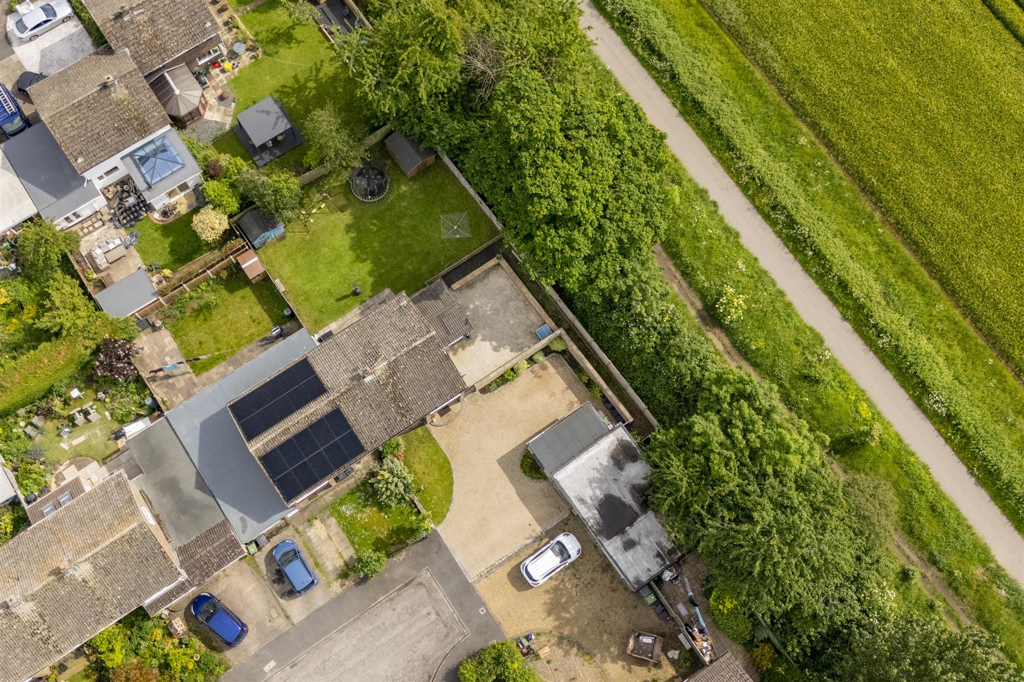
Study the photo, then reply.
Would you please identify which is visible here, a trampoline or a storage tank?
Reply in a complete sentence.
There is a trampoline in the scene.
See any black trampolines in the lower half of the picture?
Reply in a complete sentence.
No, the scene shows no black trampoline in the lower half of the picture.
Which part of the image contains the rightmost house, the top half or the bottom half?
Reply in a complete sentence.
The bottom half of the photo is where the rightmost house is.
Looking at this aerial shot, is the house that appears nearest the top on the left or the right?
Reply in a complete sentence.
The house that appears nearest the top sits on the left side.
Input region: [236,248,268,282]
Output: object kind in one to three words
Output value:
shed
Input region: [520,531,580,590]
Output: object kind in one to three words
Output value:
car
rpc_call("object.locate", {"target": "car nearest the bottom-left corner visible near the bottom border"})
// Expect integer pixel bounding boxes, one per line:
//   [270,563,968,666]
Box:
[194,591,249,651]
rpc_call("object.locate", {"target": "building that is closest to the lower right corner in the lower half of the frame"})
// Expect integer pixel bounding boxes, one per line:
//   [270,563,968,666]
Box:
[671,649,751,682]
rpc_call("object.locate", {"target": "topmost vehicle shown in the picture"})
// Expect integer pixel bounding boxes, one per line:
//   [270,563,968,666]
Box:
[12,4,77,45]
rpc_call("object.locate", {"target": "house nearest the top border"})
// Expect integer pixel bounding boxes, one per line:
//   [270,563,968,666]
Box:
[96,0,234,81]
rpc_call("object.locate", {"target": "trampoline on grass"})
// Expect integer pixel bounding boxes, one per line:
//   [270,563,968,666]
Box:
[347,161,388,205]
